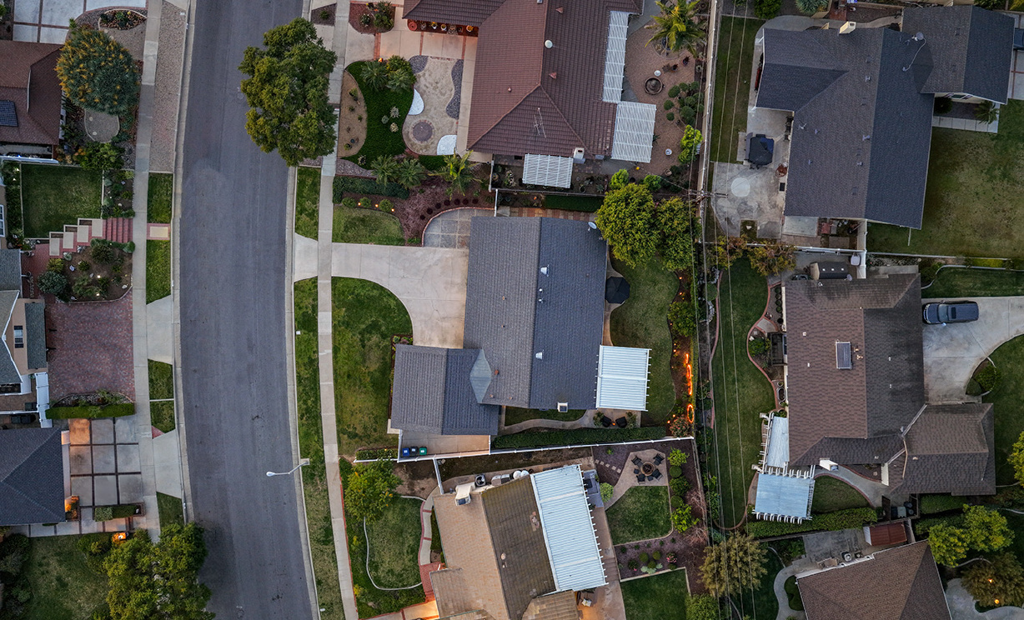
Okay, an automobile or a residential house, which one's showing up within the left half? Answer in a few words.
residential house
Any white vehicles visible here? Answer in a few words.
No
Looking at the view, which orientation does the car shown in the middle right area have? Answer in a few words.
from left to right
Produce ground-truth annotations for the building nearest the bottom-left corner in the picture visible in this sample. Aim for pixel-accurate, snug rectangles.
[0,427,72,524]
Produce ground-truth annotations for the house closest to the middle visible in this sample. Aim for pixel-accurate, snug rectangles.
[391,216,606,435]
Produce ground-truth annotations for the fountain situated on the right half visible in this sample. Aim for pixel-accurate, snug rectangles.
[645,75,664,94]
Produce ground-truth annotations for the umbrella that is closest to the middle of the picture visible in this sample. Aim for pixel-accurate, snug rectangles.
[604,278,629,303]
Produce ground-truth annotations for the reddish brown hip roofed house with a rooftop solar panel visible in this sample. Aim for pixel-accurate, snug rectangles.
[0,40,68,145]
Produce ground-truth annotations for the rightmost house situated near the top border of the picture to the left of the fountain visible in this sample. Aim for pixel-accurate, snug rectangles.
[402,0,643,166]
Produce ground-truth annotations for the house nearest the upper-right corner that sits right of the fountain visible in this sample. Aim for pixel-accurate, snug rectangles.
[755,4,1015,230]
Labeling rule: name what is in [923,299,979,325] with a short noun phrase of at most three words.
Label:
car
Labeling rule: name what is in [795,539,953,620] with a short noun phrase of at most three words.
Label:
house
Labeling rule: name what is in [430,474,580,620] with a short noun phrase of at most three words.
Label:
house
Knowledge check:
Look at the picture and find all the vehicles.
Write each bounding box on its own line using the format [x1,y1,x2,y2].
[923,299,979,325]
[1012,28,1024,52]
